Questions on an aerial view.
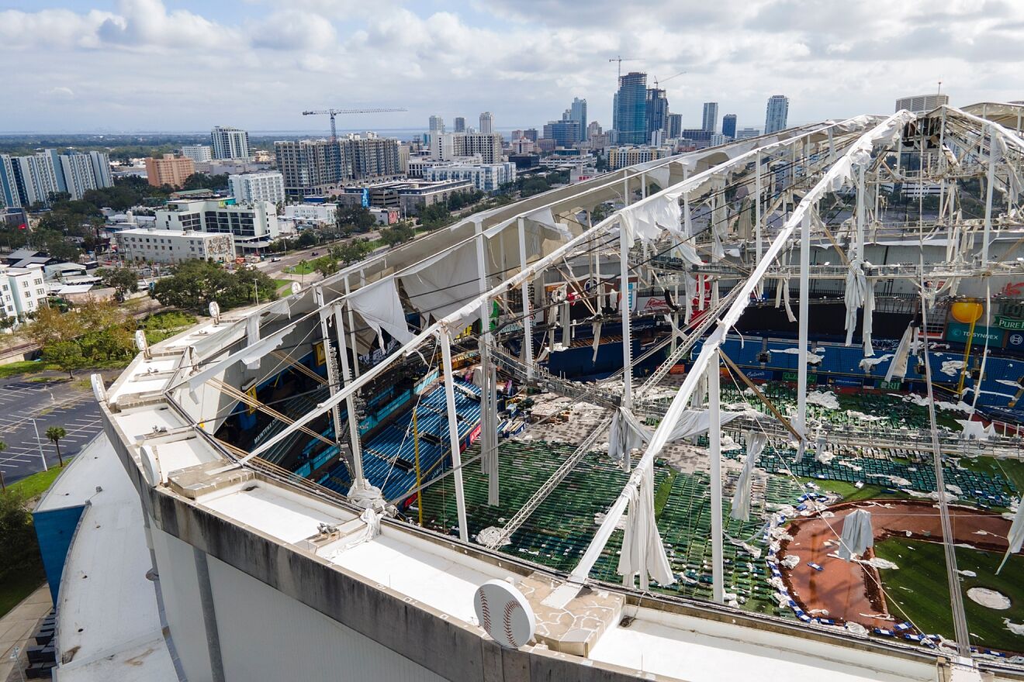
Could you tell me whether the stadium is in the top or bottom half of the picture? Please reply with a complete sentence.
Seen from above, the stadium lies in the bottom half of the view.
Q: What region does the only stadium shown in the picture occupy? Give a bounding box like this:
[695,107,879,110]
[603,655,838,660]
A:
[105,238,1024,682]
